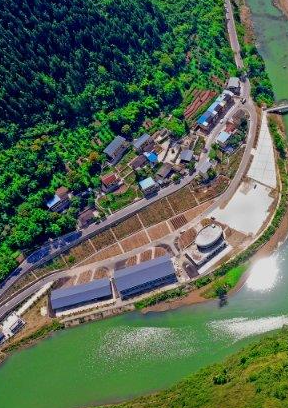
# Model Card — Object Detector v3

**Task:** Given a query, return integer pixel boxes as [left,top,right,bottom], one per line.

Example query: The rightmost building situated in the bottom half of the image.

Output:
[184,224,233,275]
